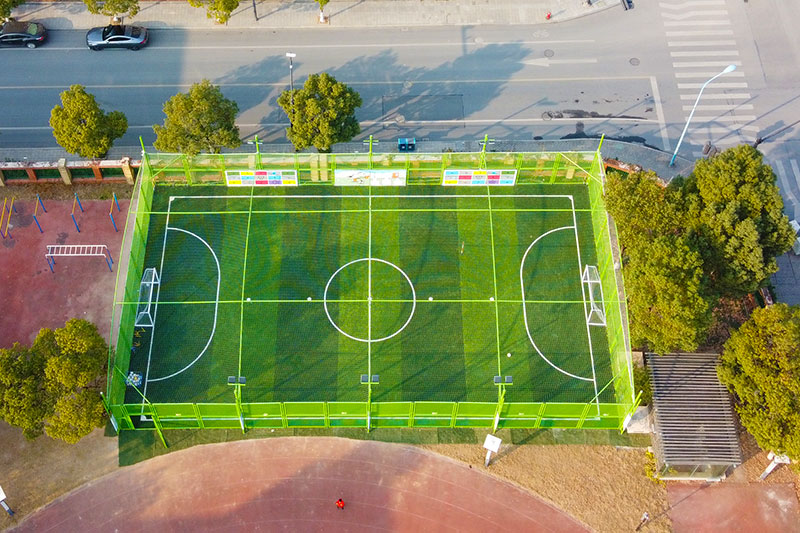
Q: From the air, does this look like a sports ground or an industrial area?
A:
sports ground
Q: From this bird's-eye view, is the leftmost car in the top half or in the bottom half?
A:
top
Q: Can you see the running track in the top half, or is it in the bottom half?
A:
bottom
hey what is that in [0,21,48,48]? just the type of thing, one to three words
car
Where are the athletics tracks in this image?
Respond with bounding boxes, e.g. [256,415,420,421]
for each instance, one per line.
[0,434,596,533]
